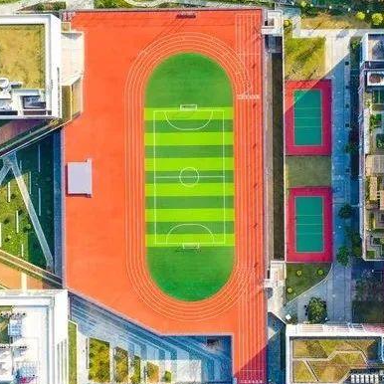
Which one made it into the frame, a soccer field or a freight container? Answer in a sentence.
Of the two, only a soccer field appears.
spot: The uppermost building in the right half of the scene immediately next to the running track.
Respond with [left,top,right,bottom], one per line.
[264,9,283,29]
